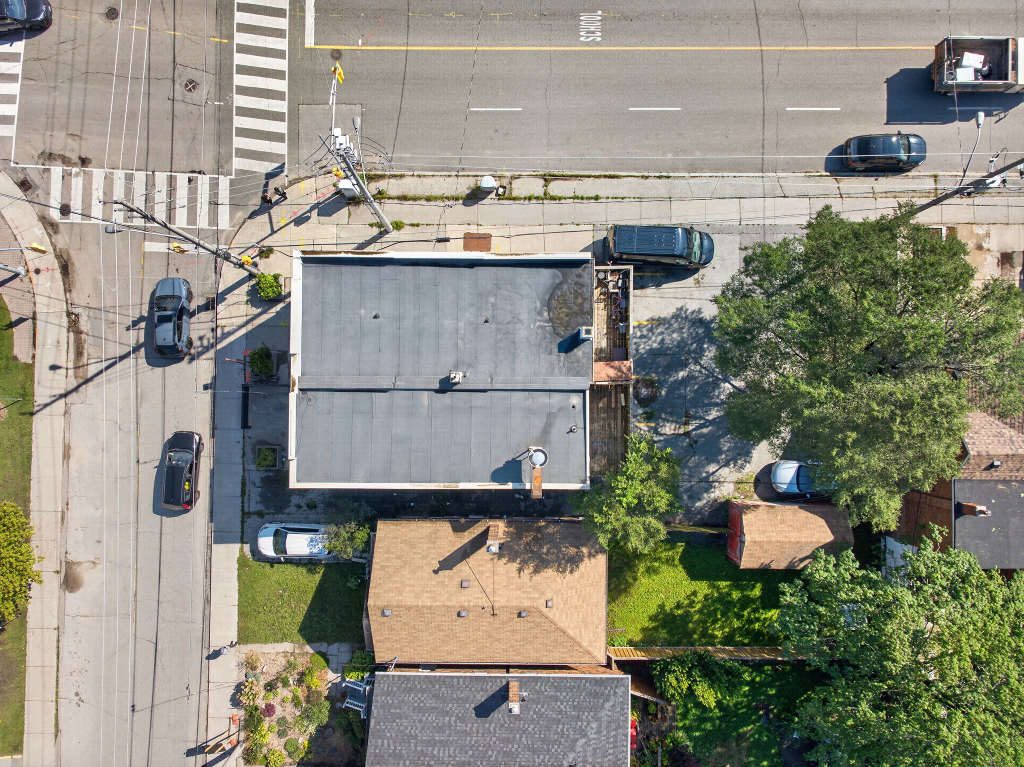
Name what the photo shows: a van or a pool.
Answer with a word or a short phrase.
van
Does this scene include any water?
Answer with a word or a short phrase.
No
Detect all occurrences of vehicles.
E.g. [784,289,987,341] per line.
[768,458,849,496]
[923,36,1024,97]
[148,278,194,359]
[601,228,712,271]
[157,430,202,512]
[839,128,926,171]
[257,523,341,563]
[0,0,56,31]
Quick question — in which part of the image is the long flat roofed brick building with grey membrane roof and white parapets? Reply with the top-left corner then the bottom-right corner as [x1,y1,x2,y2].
[289,251,594,489]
